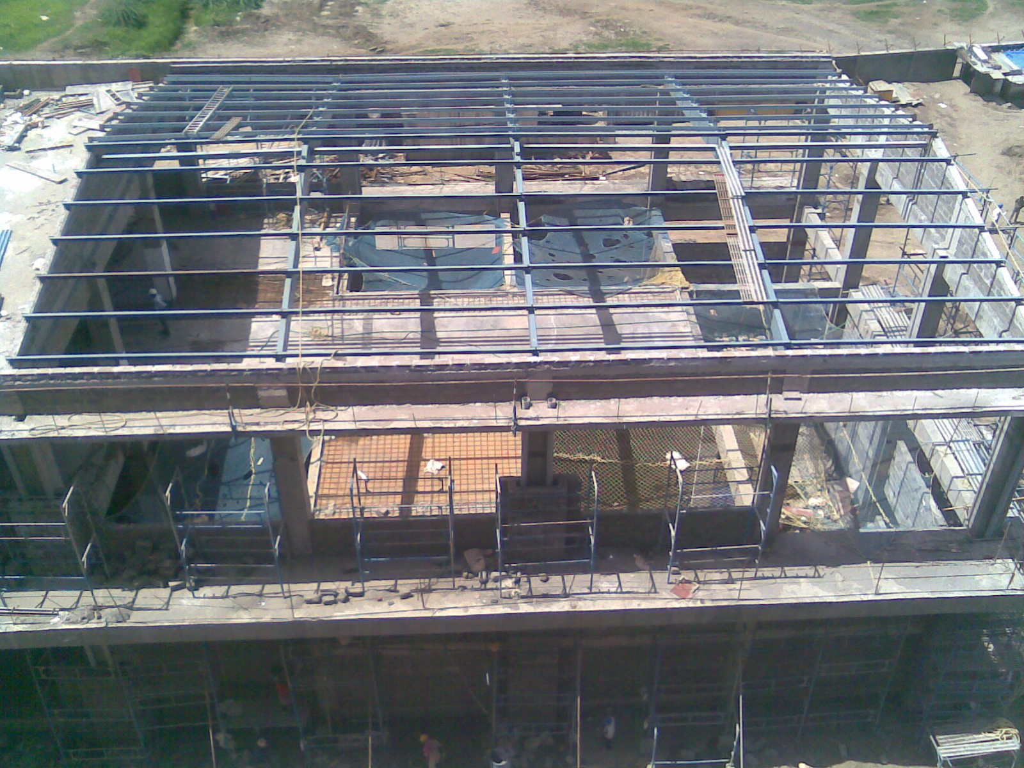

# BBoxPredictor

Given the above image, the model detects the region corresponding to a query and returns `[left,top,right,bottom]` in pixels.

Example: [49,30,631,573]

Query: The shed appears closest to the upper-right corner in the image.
[949,51,1024,108]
